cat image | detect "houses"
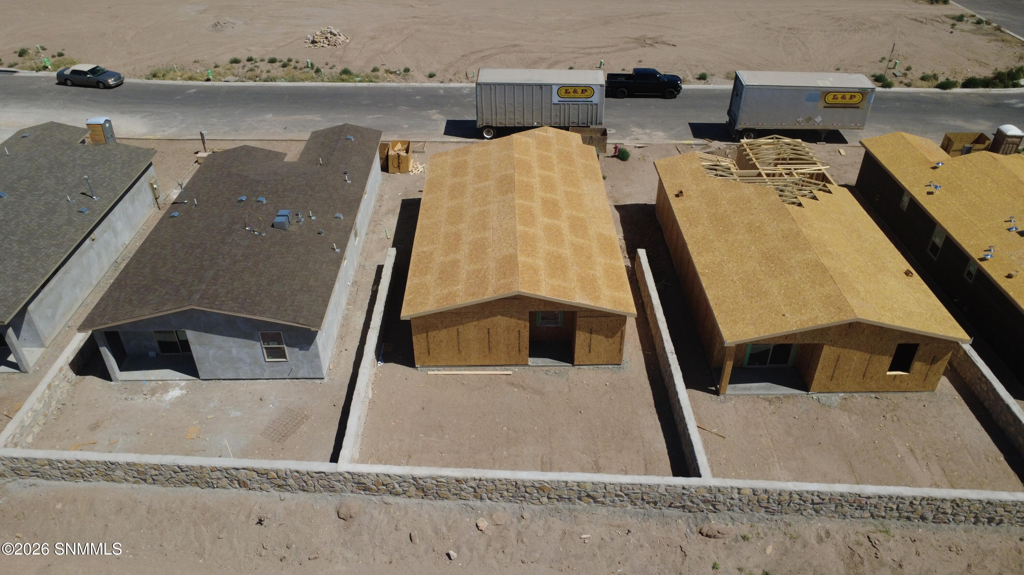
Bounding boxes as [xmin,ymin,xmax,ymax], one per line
[400,126,637,370]
[653,138,972,395]
[0,124,163,378]
[77,124,383,386]
[853,132,1024,393]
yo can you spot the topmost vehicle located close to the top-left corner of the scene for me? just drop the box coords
[55,62,126,88]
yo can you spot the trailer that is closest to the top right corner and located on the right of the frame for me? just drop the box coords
[728,72,878,140]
